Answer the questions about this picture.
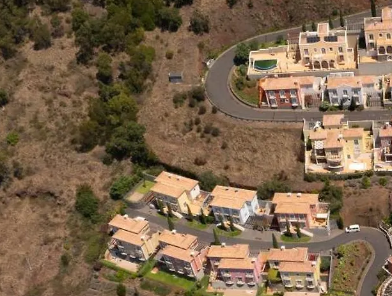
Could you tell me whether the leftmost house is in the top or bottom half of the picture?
bottom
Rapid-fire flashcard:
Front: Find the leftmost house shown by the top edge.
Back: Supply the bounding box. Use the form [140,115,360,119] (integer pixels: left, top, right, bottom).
[247,11,358,86]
